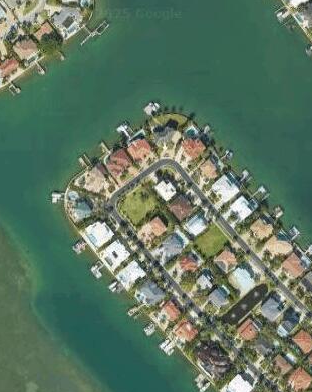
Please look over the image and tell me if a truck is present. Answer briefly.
No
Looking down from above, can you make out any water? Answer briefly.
Yes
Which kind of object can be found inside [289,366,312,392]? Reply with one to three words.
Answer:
house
